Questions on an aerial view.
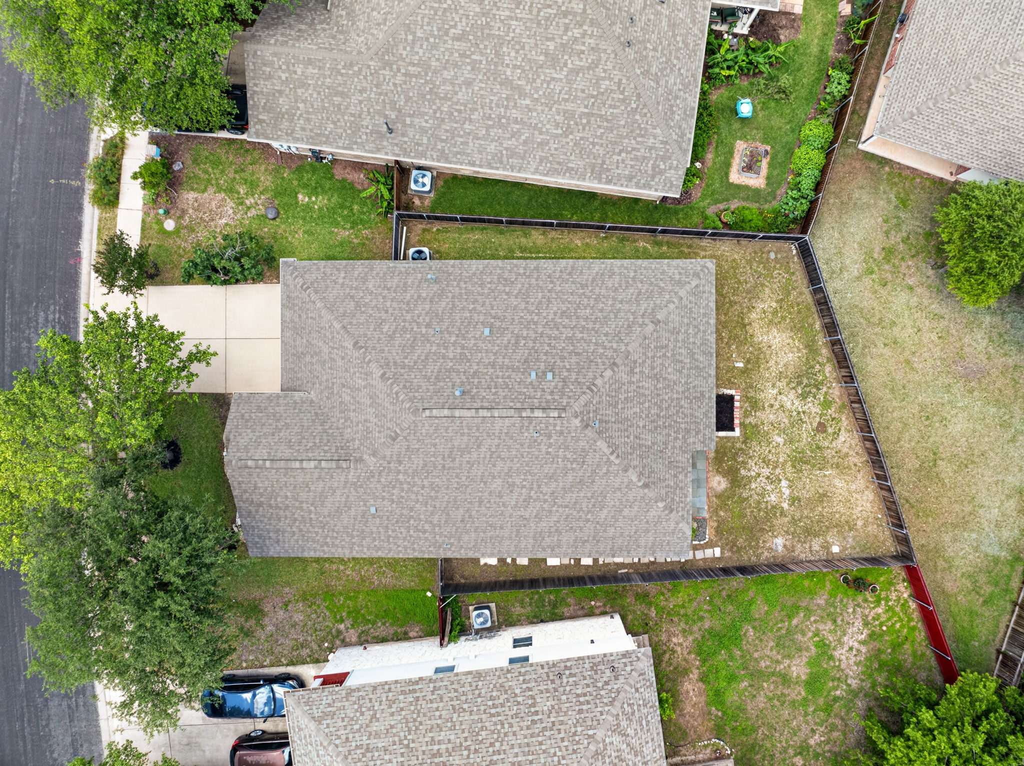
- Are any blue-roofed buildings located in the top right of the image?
No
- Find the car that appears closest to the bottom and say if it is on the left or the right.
left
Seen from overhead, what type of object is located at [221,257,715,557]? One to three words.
house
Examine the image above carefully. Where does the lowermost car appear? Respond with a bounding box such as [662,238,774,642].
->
[232,732,290,766]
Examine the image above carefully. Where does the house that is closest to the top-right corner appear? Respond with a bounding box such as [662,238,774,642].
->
[858,0,1024,196]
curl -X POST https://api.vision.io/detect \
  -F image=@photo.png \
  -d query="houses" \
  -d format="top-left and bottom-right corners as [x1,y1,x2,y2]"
[221,257,715,557]
[858,0,1024,196]
[240,0,783,201]
[281,613,664,766]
